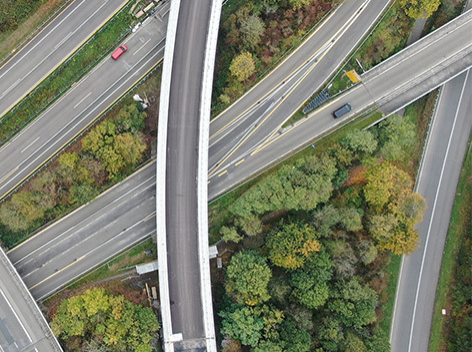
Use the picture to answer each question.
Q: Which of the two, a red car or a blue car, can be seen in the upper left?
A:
red car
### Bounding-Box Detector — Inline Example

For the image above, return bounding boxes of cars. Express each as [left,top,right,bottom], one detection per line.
[111,44,128,60]
[334,101,354,118]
